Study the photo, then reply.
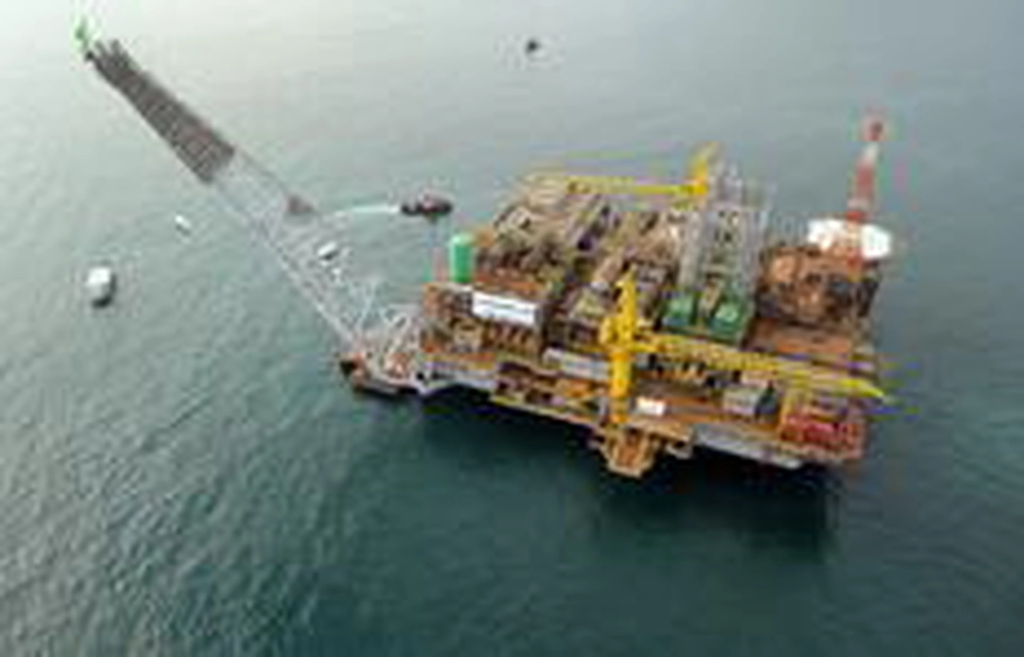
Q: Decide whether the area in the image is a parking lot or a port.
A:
port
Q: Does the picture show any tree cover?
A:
No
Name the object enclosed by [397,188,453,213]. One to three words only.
boat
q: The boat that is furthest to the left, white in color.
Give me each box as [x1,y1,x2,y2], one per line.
[84,265,124,298]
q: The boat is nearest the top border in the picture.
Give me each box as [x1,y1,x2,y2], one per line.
[522,35,543,47]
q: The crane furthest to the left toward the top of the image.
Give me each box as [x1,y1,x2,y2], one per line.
[537,139,726,242]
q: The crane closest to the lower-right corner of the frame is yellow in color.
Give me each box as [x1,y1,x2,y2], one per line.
[593,267,887,429]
